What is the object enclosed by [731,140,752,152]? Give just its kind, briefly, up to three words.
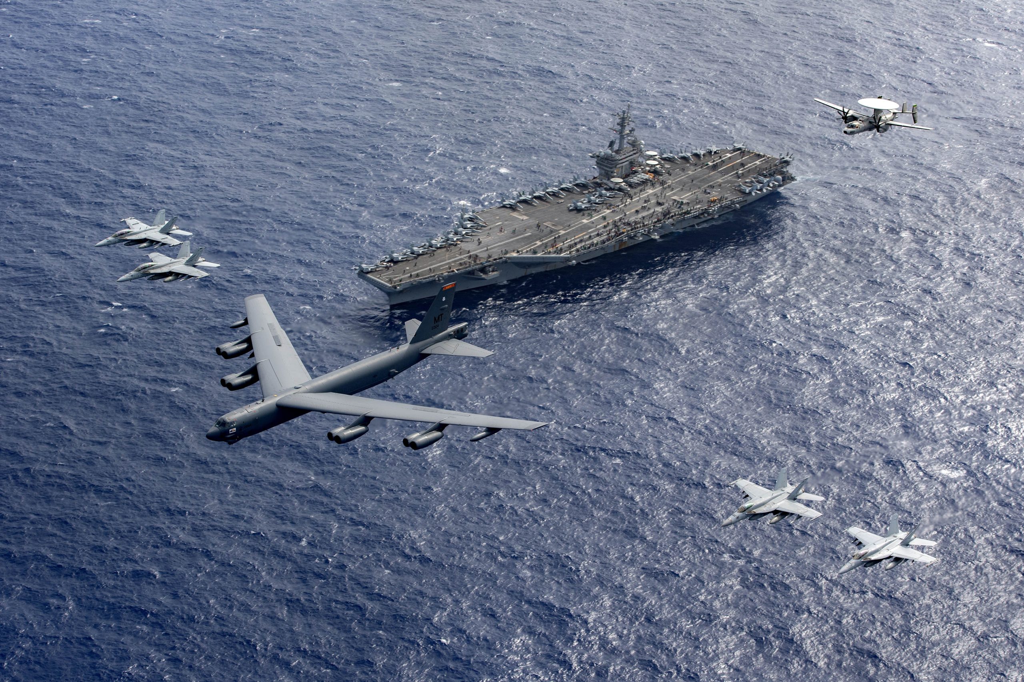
airplane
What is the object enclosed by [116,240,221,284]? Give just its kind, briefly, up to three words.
airplane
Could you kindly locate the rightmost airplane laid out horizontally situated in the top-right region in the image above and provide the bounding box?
[809,93,932,137]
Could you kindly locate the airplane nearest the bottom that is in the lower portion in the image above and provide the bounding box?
[839,513,937,575]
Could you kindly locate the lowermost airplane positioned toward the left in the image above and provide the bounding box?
[205,281,548,451]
